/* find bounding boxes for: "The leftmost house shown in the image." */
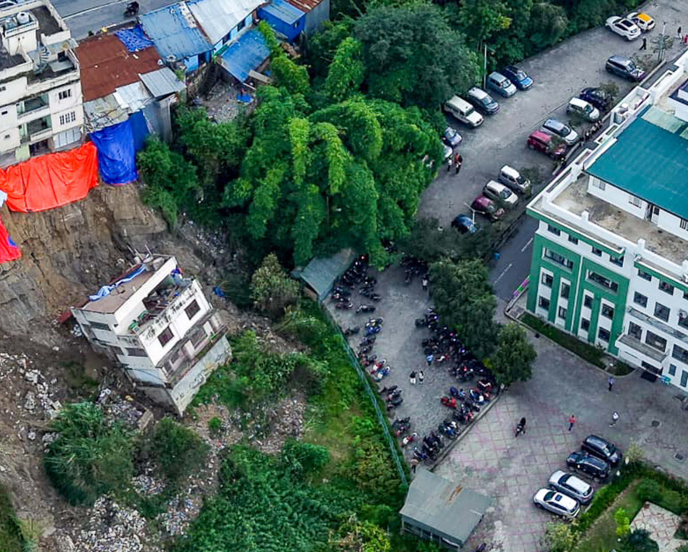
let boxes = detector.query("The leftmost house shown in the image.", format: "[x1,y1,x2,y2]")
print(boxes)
[0,0,85,170]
